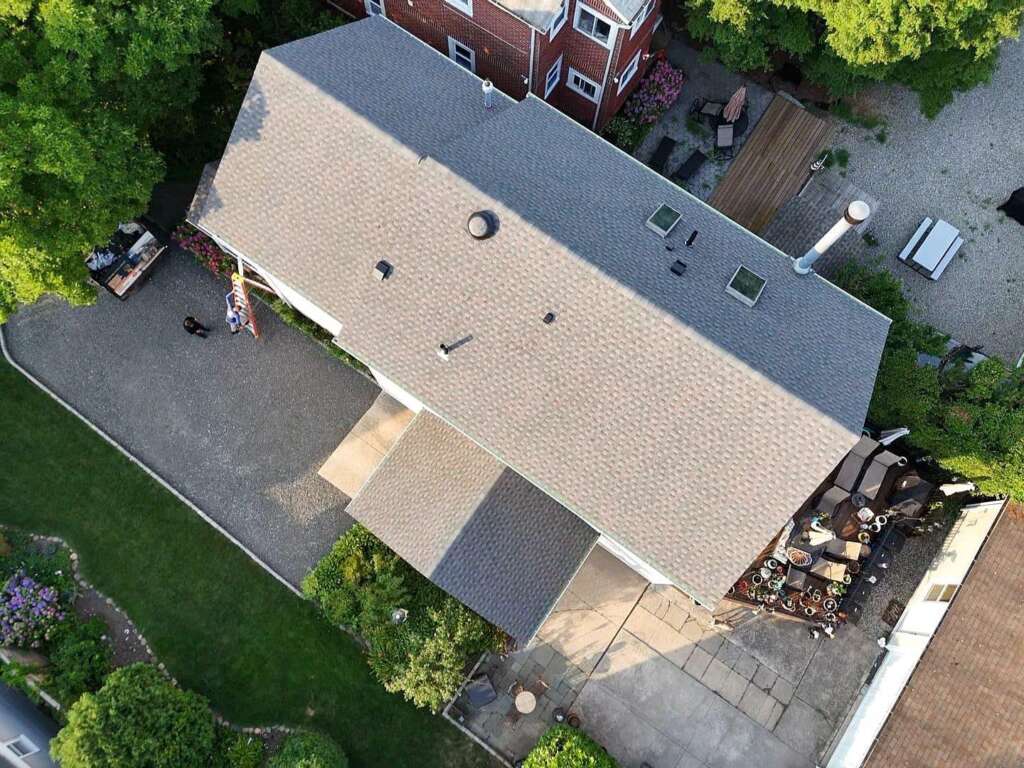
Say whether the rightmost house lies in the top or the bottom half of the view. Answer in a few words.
bottom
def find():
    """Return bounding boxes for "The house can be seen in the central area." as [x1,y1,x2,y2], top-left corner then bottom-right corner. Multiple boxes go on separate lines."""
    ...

[187,11,892,646]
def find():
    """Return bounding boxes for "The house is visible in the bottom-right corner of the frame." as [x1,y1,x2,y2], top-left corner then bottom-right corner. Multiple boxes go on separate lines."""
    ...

[814,495,1024,768]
